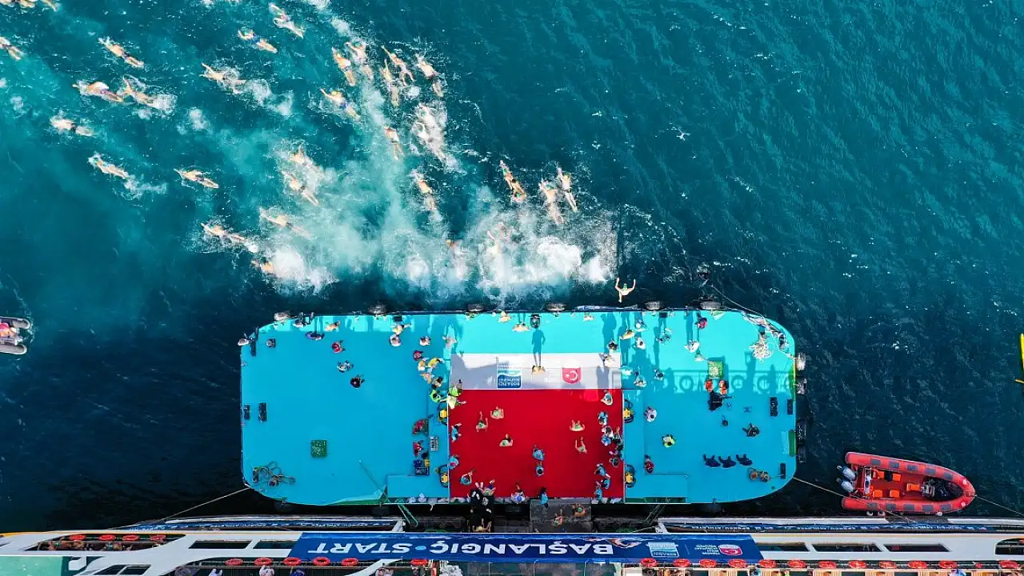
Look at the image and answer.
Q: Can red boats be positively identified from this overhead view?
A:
Yes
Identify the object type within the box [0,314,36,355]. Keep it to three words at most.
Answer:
boat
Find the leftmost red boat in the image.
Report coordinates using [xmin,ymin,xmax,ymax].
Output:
[830,452,978,510]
